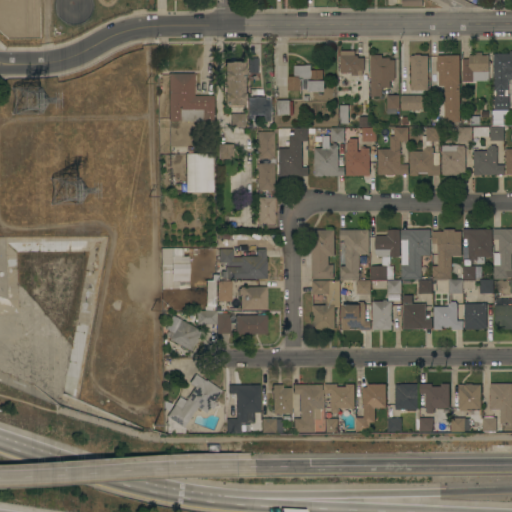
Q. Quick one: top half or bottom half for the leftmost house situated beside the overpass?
bottom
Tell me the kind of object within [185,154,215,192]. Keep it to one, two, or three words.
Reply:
building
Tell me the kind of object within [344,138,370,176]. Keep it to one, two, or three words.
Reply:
house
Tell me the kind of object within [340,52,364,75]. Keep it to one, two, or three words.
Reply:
house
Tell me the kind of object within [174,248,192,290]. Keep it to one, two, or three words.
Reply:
greenhouse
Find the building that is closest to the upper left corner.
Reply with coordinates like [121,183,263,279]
[168,72,215,122]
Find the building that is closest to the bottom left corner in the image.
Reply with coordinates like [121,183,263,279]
[168,376,222,428]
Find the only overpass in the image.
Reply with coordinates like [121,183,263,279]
[0,452,257,488]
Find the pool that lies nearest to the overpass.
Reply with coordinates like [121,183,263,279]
[195,415,219,430]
